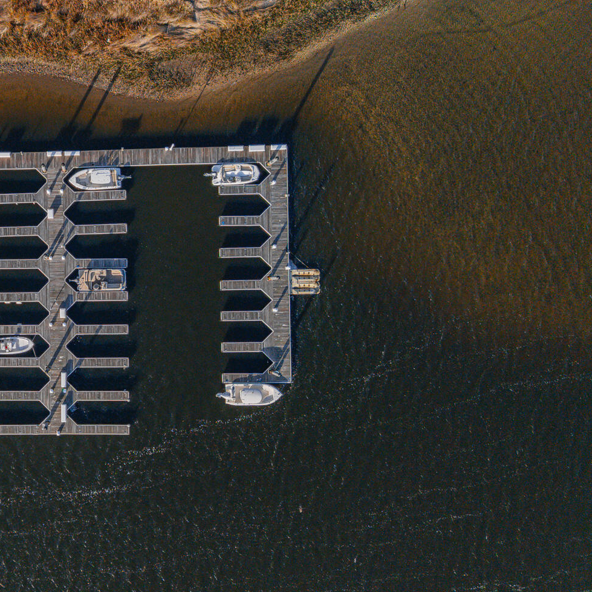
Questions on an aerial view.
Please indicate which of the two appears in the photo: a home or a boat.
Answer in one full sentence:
There is a boat in the scene.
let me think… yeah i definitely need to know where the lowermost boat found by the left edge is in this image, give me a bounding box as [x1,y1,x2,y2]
[0,337,34,354]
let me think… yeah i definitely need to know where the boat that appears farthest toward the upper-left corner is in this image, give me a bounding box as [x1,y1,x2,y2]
[69,169,133,191]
